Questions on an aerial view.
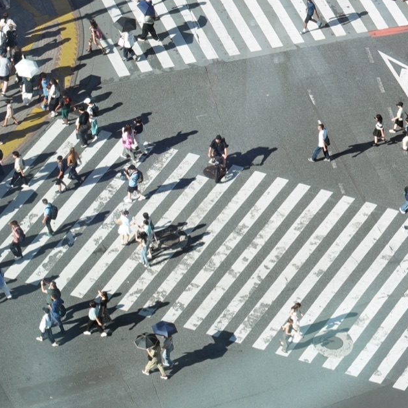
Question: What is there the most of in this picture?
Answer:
paved ground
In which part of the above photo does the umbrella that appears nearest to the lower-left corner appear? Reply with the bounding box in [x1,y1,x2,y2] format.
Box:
[138,332,161,354]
